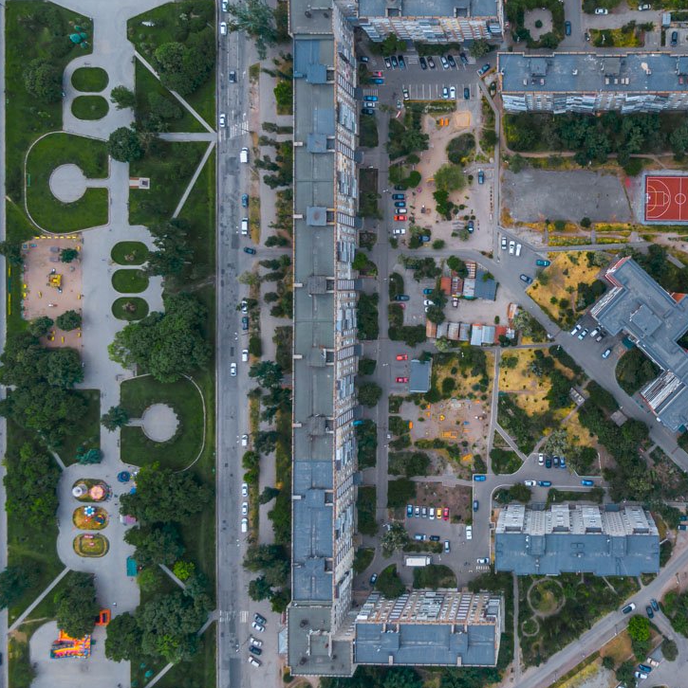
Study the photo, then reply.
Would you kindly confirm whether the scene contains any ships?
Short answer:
No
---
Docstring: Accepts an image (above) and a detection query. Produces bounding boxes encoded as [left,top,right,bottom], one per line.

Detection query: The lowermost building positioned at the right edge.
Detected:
[495,501,659,577]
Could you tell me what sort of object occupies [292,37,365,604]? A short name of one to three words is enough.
building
